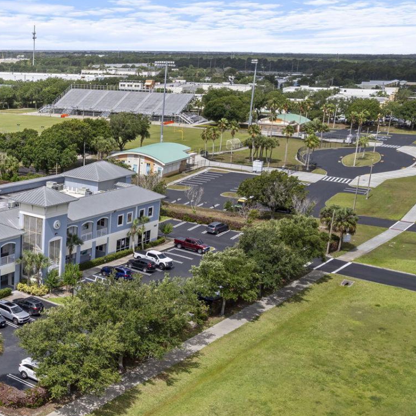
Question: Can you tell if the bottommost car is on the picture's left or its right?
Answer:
left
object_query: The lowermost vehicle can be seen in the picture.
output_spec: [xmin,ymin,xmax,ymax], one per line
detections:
[11,358,57,382]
